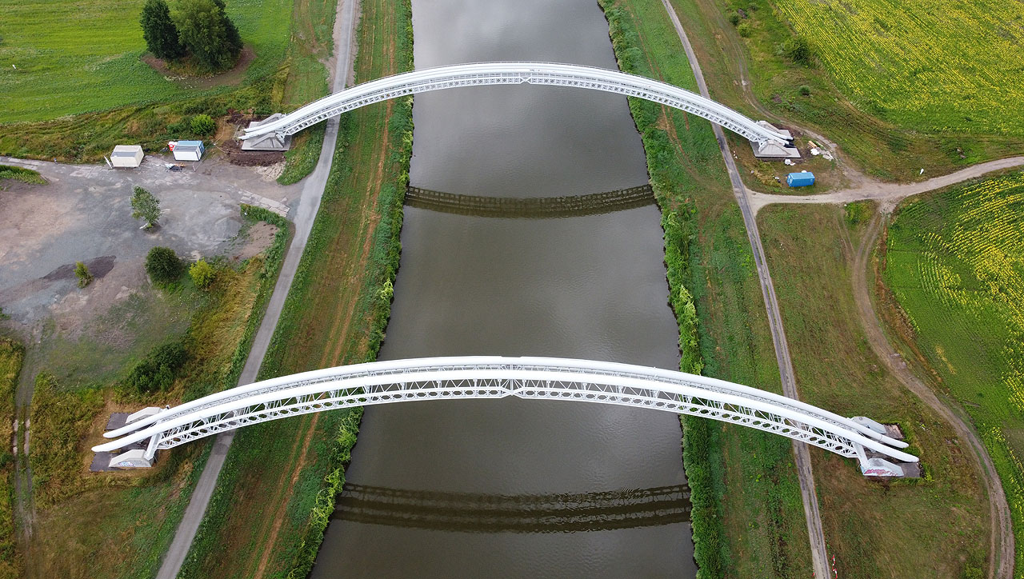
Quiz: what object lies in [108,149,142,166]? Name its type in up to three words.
building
